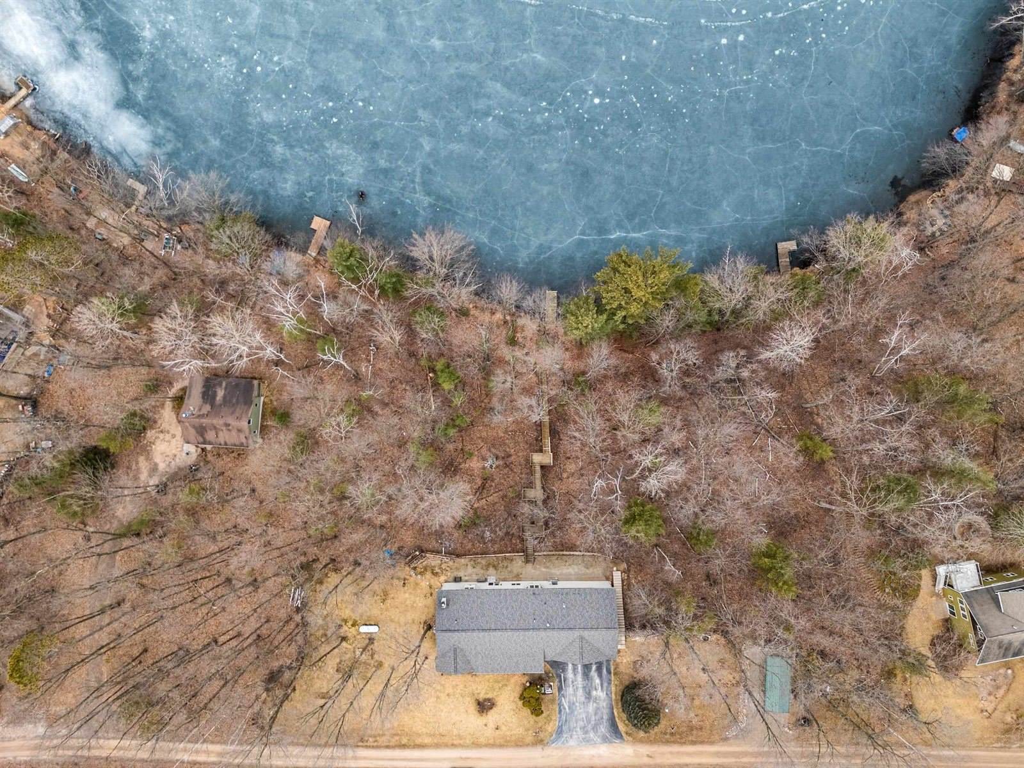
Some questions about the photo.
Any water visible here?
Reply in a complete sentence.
Yes, there is water in the image.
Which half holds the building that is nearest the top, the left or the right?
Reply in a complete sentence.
The building that is nearest the top appears in the left half of the scene.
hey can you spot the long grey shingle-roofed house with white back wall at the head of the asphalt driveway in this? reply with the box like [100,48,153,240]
[435,579,620,678]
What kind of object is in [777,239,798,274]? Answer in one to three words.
pier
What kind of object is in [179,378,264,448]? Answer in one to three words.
building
